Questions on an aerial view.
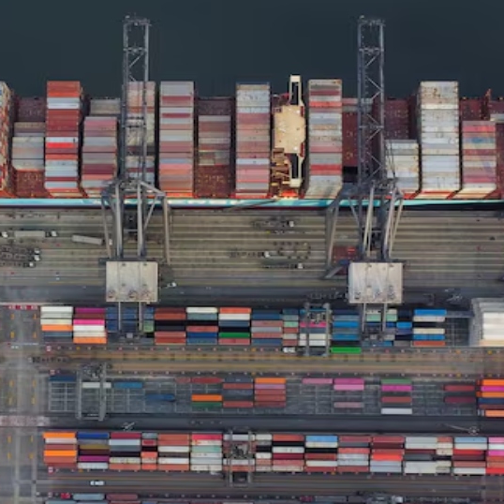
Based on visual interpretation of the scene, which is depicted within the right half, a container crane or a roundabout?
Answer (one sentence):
The one visible within the right half is a container crane.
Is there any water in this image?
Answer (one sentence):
Yes, water can be seen from above here.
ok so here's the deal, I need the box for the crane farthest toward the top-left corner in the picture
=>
[101,15,173,337]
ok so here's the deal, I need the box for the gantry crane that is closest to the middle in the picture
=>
[293,300,332,357]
